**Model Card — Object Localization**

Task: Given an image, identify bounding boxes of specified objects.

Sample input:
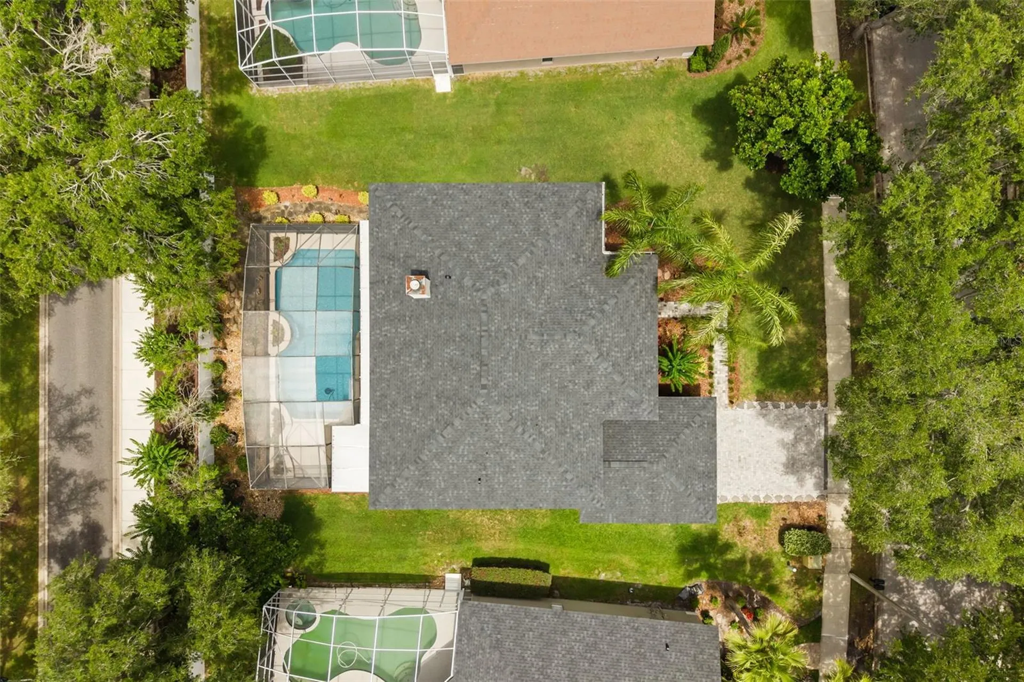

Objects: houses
[454,592,719,682]
[441,0,716,74]
[369,183,717,523]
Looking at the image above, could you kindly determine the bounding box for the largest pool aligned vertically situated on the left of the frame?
[271,244,357,423]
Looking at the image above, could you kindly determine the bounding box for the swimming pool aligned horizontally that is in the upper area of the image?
[261,0,425,70]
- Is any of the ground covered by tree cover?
Yes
